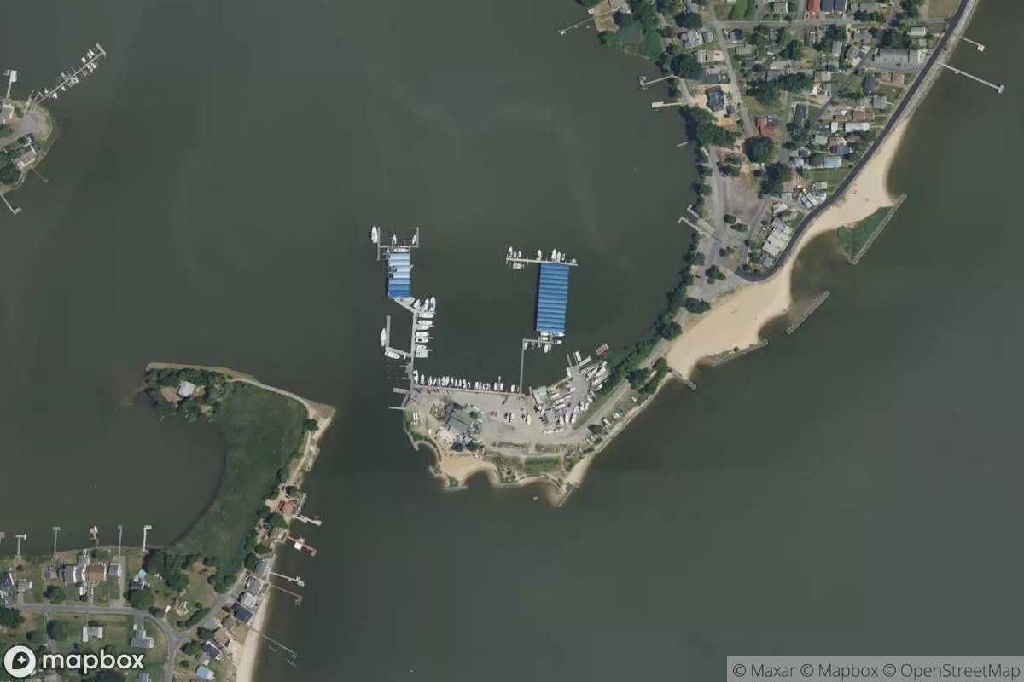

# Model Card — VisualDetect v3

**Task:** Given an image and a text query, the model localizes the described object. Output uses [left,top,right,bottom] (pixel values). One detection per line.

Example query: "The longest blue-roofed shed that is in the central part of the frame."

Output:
[537,263,571,332]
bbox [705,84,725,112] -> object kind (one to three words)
house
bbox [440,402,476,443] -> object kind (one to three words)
building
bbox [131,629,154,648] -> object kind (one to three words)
house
